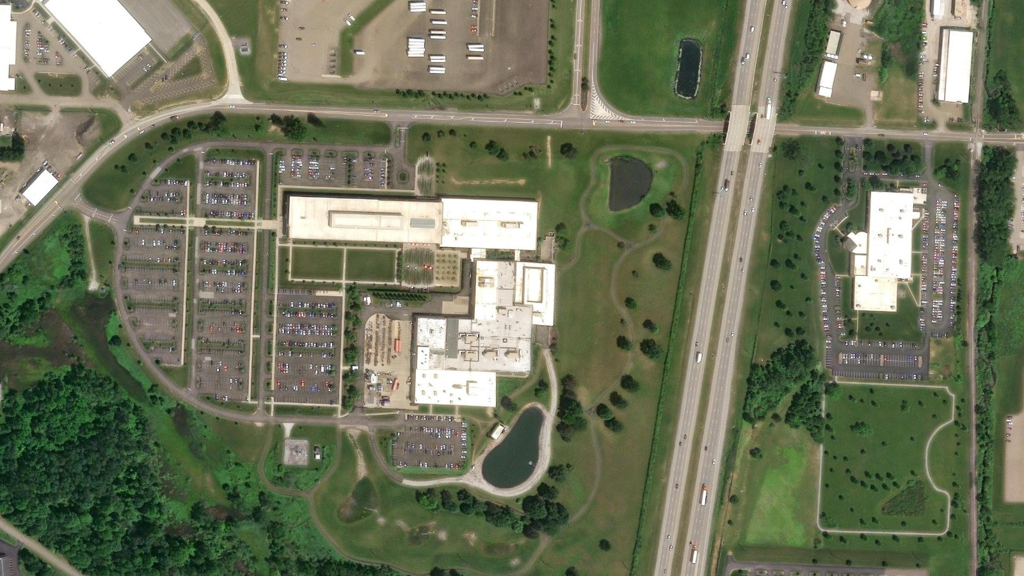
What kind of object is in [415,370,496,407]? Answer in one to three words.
building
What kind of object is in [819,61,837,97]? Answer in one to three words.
building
